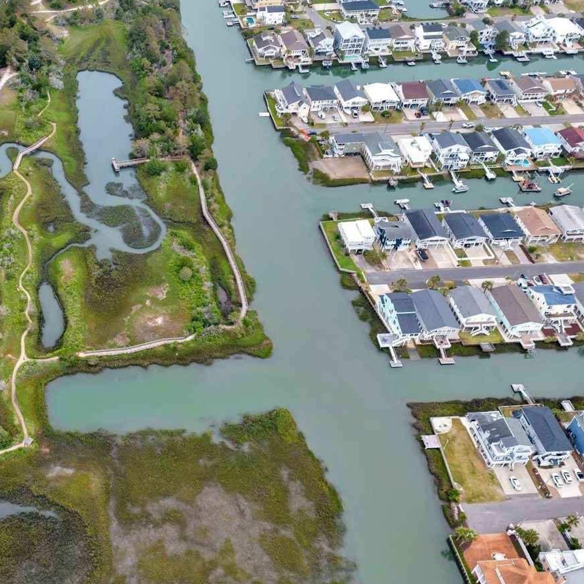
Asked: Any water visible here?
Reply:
Yes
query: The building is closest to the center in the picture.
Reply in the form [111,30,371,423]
[336,222,376,252]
